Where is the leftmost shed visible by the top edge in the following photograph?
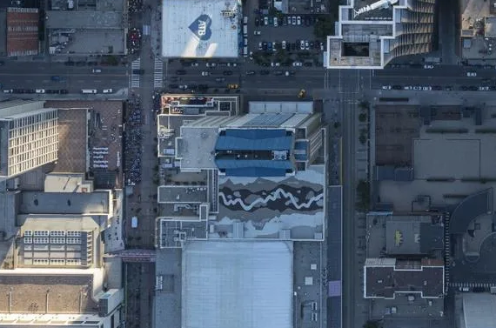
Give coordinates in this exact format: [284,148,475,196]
[7,8,44,55]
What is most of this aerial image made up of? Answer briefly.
buildings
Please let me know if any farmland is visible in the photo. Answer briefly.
No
